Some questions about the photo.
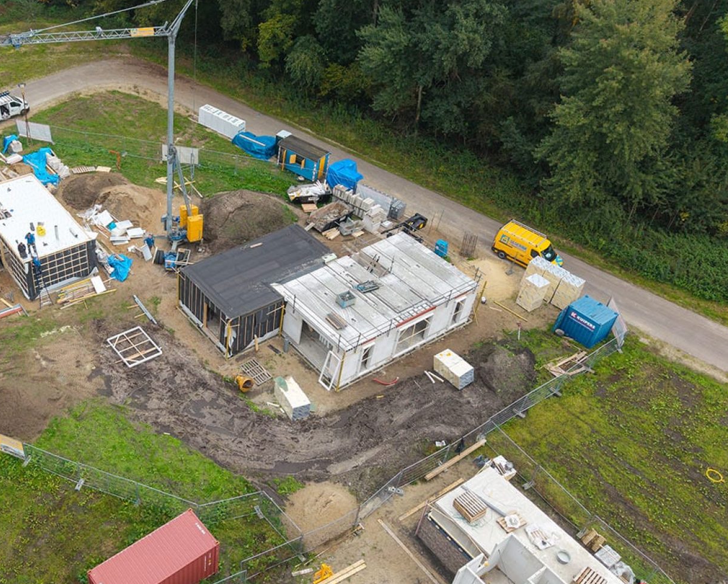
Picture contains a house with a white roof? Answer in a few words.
Yes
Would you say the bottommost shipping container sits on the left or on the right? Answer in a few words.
left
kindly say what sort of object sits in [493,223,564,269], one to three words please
van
